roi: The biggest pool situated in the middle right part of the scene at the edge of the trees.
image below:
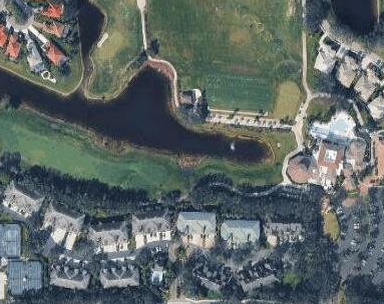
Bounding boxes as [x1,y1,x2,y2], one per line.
[311,117,349,141]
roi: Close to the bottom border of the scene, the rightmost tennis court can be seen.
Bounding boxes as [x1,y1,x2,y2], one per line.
[25,261,42,295]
